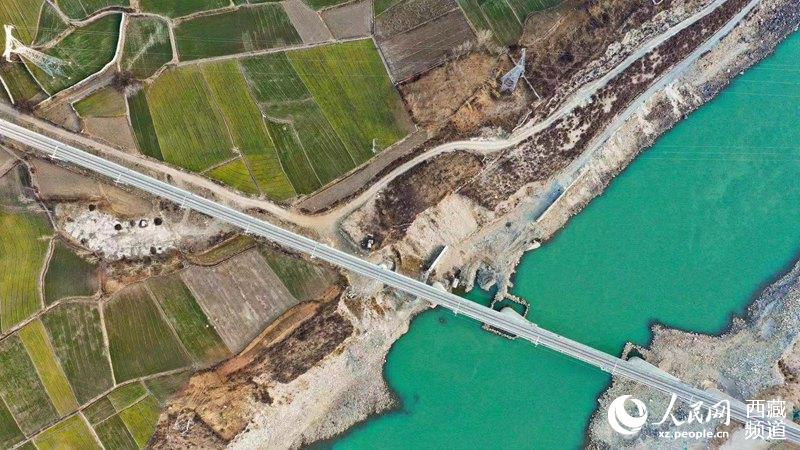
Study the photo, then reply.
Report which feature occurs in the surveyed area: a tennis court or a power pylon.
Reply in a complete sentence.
There is a power pylon in the scene.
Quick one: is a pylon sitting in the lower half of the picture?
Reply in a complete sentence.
No, no pylon appears in the lower half of the picture.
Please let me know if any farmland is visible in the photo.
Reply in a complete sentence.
Yes, farmland shows up in the scene.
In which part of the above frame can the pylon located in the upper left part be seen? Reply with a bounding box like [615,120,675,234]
[2,26,75,81]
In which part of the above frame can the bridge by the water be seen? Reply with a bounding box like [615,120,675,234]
[0,120,800,448]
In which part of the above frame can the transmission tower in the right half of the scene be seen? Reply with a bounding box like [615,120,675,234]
[496,52,525,98]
